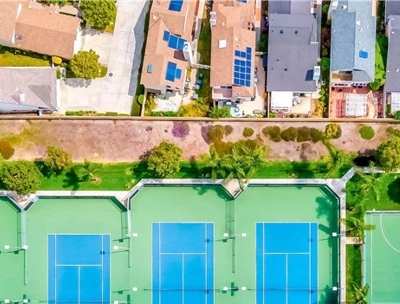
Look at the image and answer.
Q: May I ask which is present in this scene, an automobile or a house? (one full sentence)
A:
This aerial view contains a house.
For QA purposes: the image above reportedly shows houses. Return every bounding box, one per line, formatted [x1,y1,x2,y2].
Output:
[210,0,255,98]
[0,68,61,112]
[267,0,321,97]
[0,0,83,61]
[141,0,196,97]
[328,0,375,88]
[381,0,400,98]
